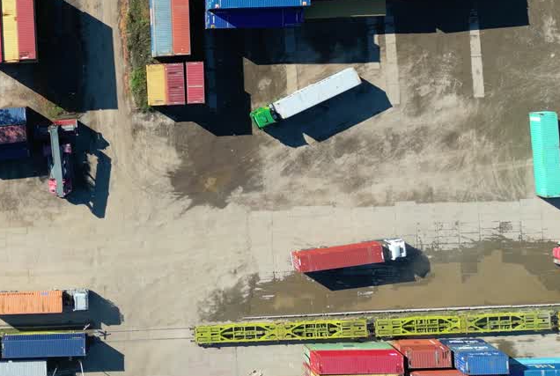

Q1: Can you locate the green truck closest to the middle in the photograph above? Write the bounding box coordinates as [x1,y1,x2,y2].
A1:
[249,99,277,129]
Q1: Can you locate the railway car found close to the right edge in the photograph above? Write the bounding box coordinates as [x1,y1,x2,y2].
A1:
[376,310,558,335]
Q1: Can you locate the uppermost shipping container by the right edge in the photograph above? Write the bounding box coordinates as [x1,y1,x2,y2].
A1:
[530,112,560,197]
